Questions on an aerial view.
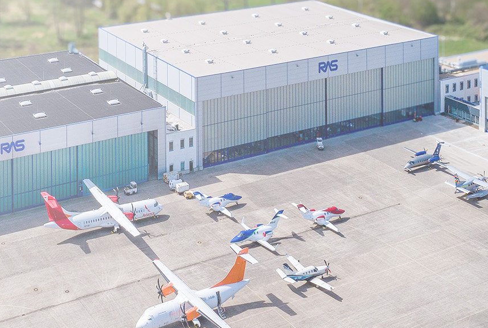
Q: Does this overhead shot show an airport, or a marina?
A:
airport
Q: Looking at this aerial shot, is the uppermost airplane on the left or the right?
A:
right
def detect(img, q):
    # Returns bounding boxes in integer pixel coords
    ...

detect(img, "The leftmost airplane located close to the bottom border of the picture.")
[136,245,257,328]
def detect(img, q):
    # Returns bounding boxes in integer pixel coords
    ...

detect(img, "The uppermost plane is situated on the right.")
[402,141,450,173]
